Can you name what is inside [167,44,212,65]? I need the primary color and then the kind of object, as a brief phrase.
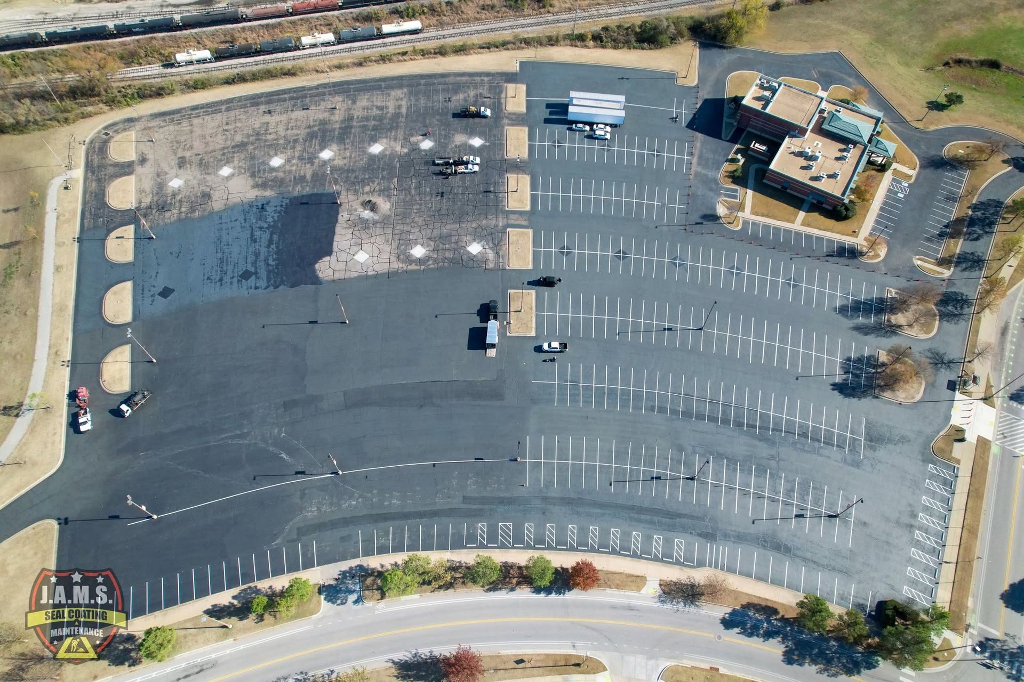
white rail car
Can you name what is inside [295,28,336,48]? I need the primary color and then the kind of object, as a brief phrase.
white rail car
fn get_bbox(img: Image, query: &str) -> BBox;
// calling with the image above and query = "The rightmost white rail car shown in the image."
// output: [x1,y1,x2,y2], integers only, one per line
[378,16,424,37]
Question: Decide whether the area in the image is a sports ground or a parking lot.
parking lot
